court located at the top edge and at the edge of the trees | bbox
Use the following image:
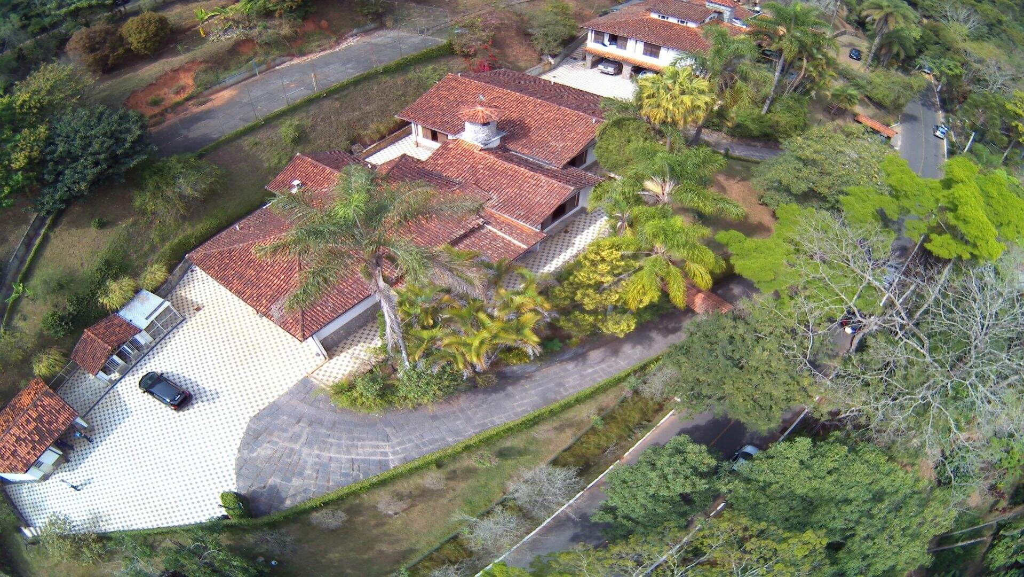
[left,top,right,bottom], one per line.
[125,26,450,162]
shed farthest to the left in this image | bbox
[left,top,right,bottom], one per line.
[0,378,93,476]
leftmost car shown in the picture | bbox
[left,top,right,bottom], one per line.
[134,373,186,410]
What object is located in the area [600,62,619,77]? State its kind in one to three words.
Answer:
car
